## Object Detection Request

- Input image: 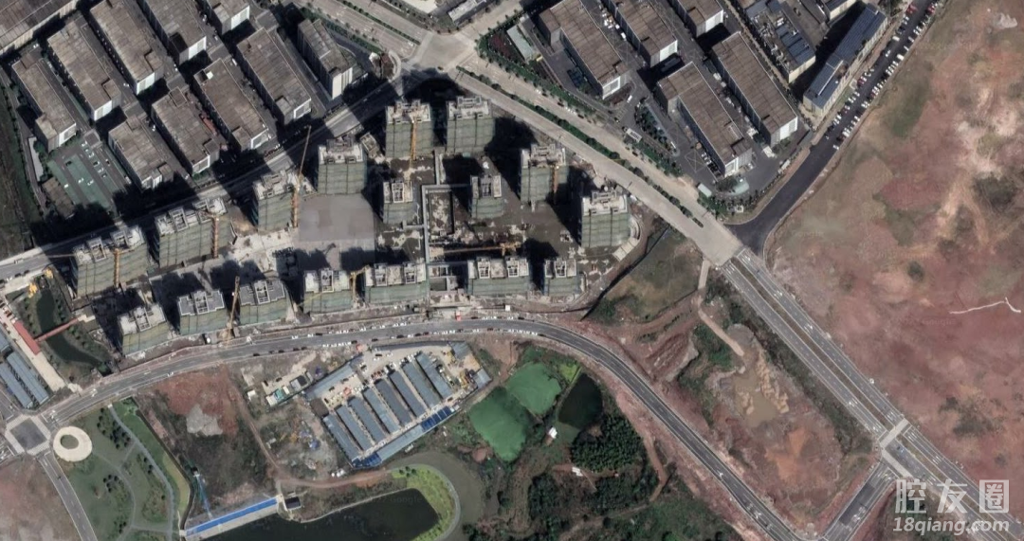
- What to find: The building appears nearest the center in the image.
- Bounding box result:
[465,255,531,298]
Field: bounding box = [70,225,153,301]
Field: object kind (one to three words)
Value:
building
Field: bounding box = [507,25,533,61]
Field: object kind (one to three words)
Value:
shed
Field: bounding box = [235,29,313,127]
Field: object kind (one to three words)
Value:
building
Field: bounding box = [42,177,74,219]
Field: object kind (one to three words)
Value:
shed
